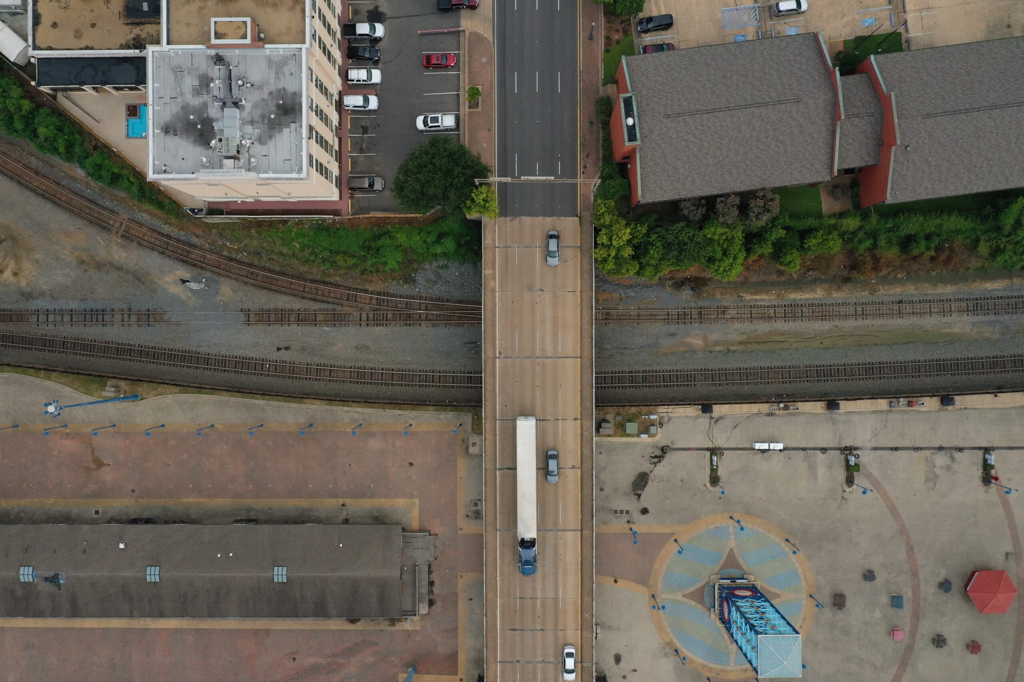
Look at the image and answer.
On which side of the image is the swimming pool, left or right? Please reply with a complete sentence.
The swimming pool sits on the left side.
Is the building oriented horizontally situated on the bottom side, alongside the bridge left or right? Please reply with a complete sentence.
The building oriented horizontally situated on the bottom side, alongside the bridge sits on the left side.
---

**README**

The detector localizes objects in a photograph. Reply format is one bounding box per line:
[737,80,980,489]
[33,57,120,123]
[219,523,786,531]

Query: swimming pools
[126,103,148,138]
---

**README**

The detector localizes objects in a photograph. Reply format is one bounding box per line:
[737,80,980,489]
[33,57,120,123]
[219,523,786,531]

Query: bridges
[471,213,595,682]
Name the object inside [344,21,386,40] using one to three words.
vehicle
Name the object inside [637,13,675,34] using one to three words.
car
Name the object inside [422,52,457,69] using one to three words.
car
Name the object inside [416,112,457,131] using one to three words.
vehicle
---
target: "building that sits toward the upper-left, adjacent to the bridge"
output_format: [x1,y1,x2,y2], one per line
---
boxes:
[148,0,344,203]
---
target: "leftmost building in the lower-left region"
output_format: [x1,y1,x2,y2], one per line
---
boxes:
[0,521,403,619]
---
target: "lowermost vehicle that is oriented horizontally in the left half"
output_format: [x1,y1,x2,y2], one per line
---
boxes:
[349,175,385,192]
